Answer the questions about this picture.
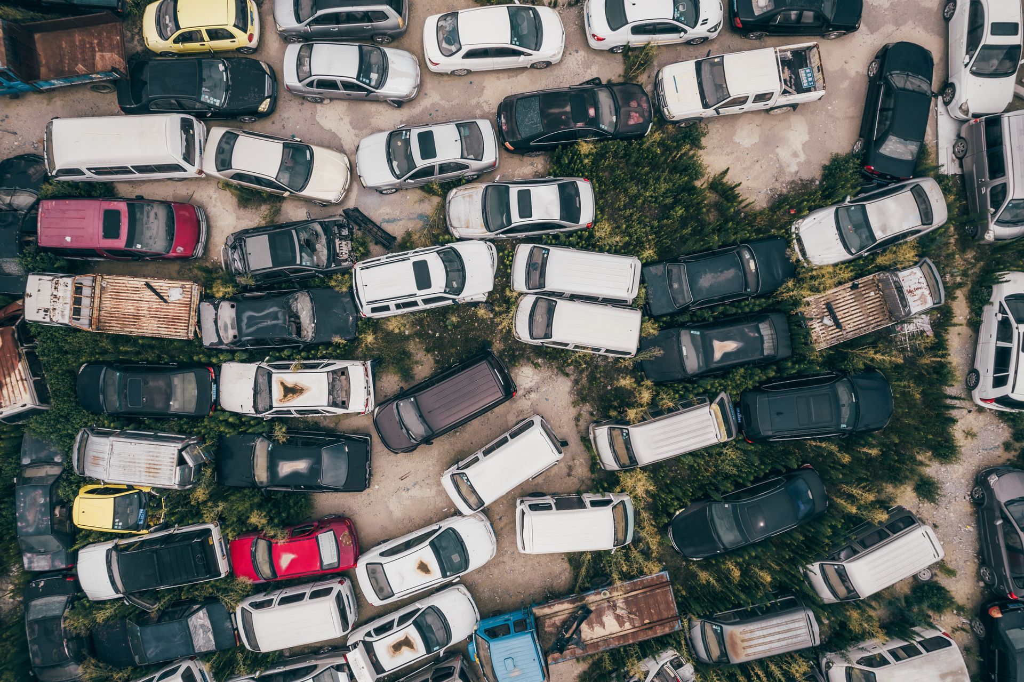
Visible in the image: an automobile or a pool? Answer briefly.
automobile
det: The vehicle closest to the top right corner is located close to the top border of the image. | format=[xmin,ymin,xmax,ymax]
[940,0,1024,123]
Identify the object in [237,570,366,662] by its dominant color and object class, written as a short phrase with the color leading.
white van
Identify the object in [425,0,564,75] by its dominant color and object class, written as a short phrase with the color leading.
white car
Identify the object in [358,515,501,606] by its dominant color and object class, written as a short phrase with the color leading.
white car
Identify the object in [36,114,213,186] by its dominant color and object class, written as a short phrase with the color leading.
white vehicle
